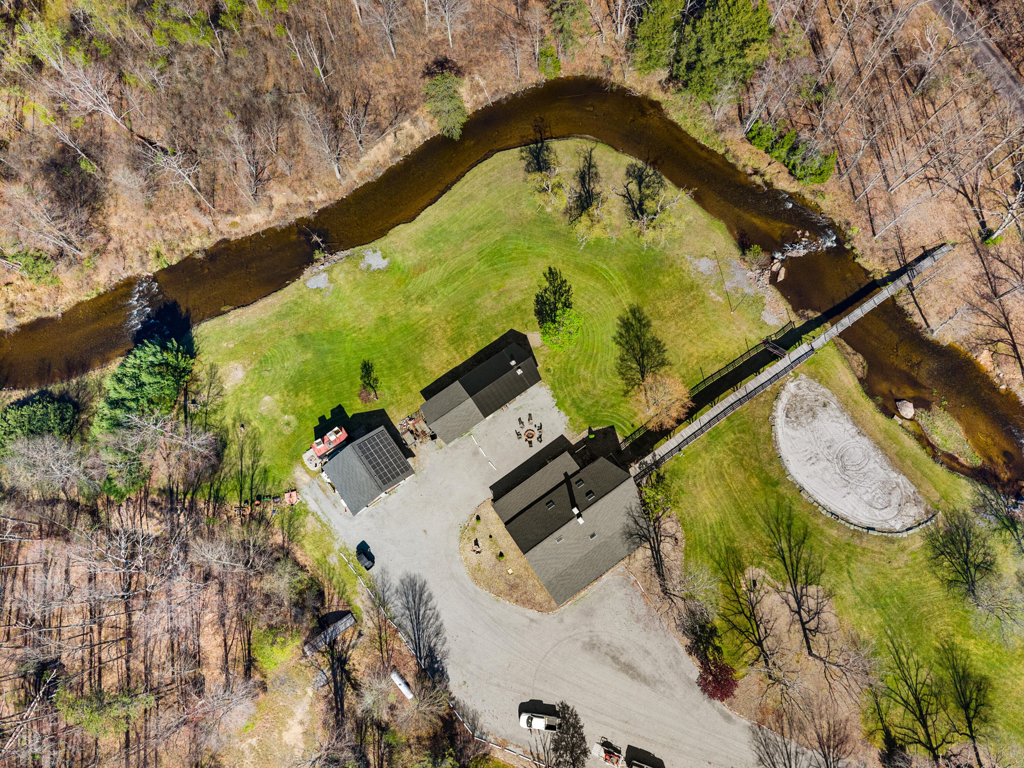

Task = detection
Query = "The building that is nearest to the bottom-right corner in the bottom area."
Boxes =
[492,451,653,607]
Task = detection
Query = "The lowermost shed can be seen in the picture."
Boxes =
[301,611,360,657]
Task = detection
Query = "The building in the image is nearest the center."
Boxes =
[420,343,542,444]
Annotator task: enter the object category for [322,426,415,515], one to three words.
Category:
building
